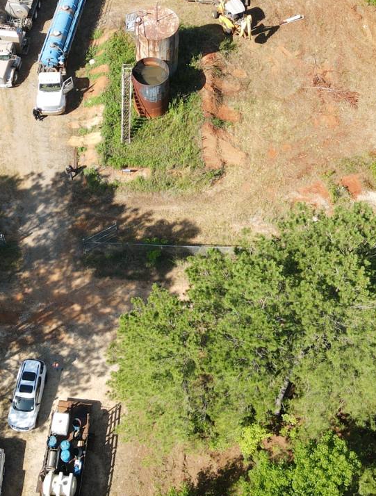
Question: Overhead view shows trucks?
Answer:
Yes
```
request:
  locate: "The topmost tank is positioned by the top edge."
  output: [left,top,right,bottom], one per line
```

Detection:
[135,9,178,71]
